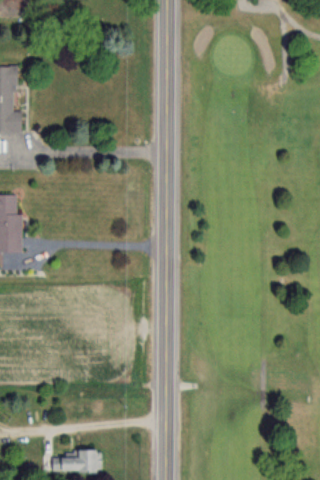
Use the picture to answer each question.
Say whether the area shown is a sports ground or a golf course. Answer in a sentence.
It's a golf course.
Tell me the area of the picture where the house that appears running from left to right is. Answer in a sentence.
The house that appears running from left to right is in the bottom left part of the image.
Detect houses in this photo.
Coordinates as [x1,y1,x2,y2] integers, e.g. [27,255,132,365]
[0,66,22,134]
[0,194,24,268]
[52,451,104,475]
